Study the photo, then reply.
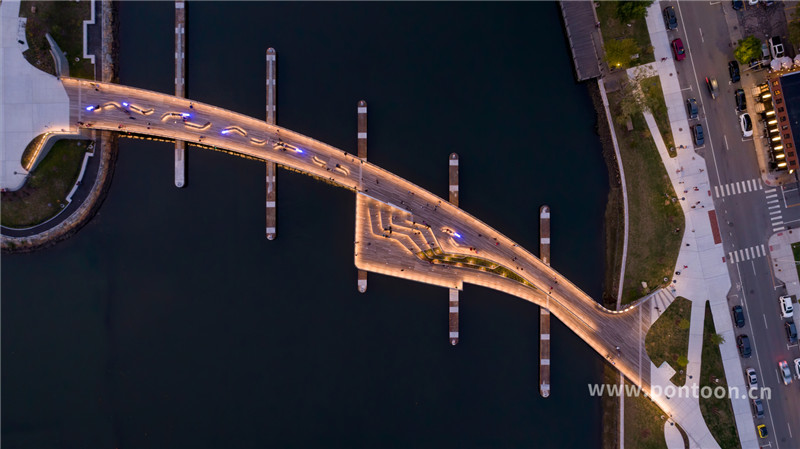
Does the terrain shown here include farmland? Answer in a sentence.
No, farmland can't be seen anywhere here.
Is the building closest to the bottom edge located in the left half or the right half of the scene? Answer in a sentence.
The building closest to the bottom edge sits on the right side.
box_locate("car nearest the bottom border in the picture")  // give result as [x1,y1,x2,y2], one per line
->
[755,422,769,438]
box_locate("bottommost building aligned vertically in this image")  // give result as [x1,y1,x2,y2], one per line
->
[759,73,800,173]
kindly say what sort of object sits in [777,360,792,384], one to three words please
car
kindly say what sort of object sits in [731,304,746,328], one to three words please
car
